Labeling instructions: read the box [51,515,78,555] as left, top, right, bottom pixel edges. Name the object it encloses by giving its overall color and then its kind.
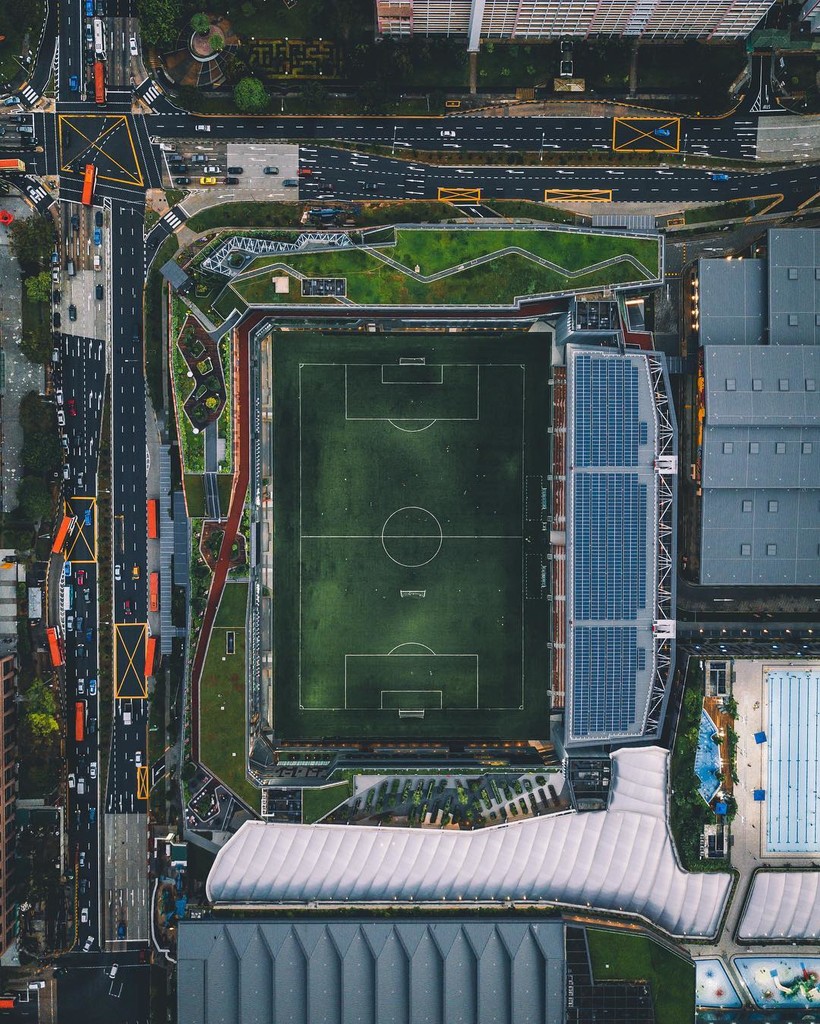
orange bus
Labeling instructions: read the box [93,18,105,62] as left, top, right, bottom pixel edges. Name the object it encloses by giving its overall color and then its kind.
white vehicle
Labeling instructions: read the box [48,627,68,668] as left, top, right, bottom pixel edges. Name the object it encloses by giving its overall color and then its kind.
red bus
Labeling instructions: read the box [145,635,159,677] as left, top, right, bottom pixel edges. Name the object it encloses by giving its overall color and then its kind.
red vehicle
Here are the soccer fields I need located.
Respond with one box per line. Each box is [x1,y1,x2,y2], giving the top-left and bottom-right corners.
[273,333,551,740]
